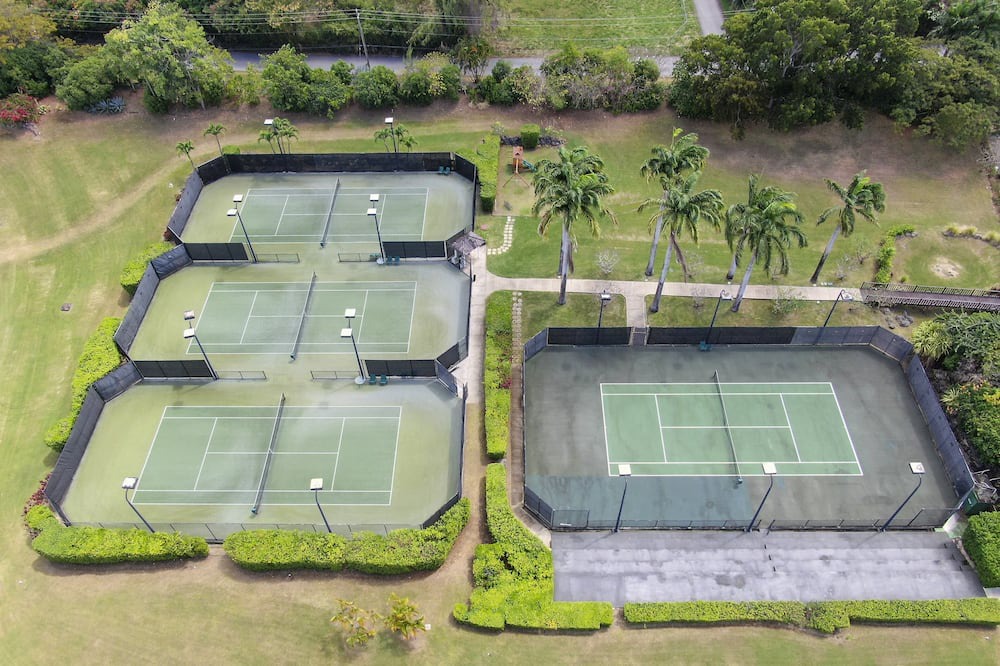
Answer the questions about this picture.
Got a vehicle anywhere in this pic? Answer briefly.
No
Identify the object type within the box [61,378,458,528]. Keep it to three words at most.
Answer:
tennis court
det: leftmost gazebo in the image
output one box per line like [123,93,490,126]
[450,233,486,271]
